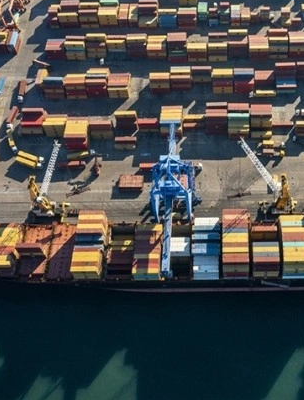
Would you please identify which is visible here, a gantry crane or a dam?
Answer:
gantry crane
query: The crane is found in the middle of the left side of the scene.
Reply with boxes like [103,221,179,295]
[29,140,64,216]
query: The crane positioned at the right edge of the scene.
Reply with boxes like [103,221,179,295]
[228,138,303,215]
